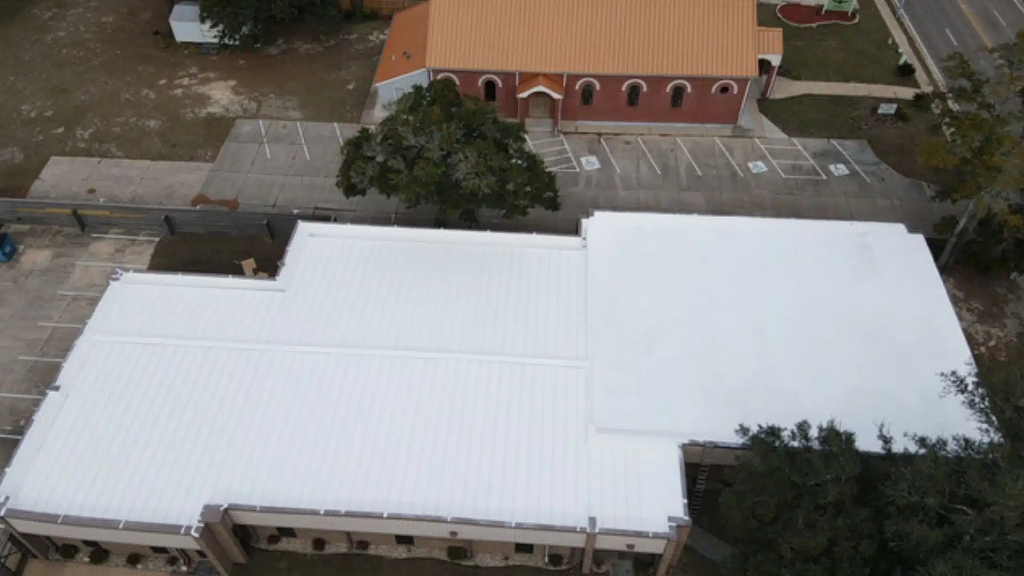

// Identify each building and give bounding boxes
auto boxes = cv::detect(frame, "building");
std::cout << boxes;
[0,207,1019,565]
[168,4,248,44]
[371,0,783,133]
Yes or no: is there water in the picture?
No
